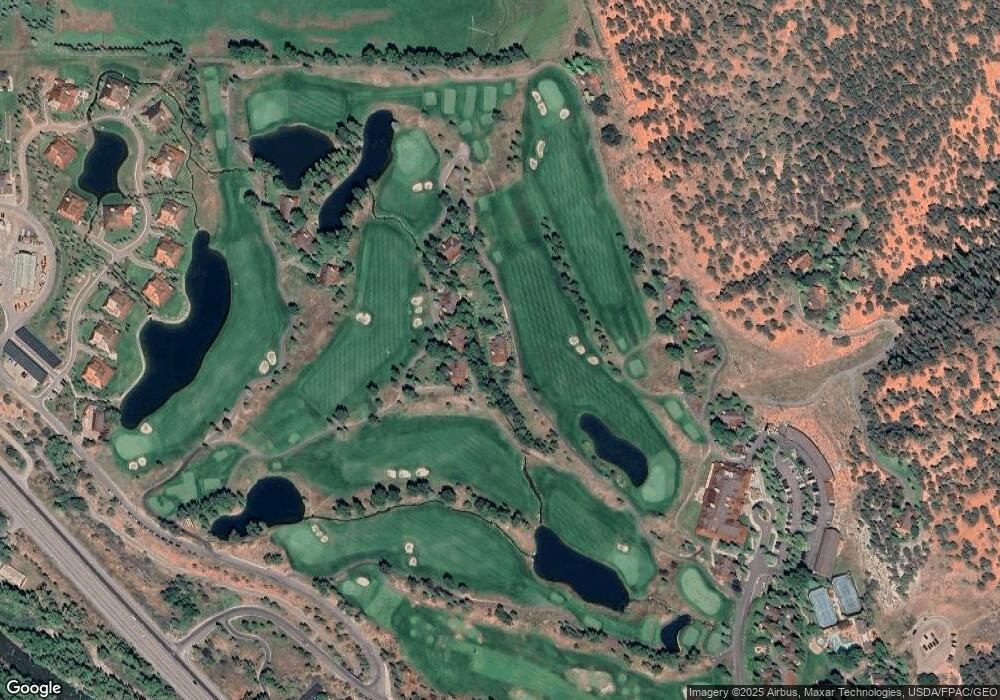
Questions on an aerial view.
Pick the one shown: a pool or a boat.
pool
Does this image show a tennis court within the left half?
No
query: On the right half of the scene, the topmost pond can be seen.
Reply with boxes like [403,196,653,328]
[580,413,648,487]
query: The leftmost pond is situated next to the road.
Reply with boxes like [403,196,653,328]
[79,128,128,194]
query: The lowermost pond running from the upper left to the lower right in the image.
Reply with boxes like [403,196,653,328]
[533,526,629,611]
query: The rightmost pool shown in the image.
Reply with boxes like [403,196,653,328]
[809,620,863,655]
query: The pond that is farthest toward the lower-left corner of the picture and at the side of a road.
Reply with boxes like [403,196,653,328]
[210,474,306,540]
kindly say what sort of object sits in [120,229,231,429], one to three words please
pond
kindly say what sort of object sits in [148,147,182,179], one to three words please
house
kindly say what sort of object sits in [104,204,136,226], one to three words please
house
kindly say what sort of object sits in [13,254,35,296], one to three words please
building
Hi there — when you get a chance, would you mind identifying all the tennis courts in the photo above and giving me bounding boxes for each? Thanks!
[810,587,839,629]
[832,574,862,616]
